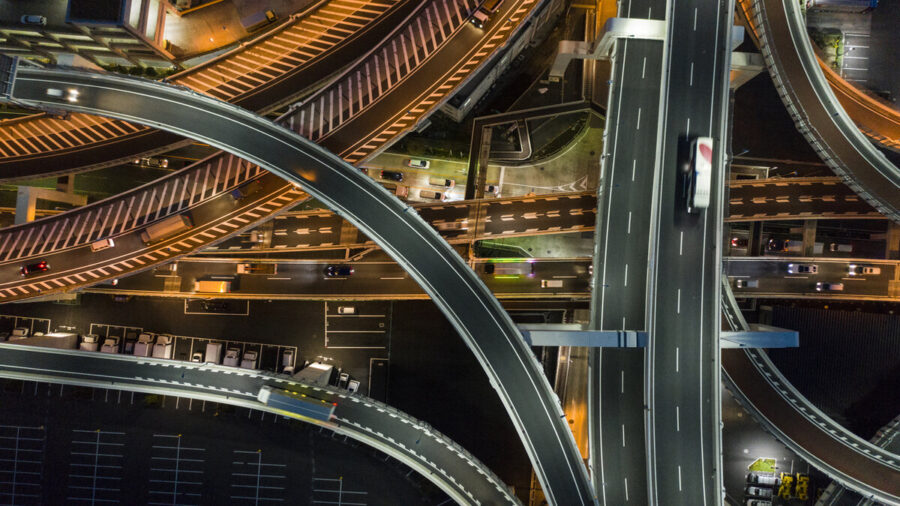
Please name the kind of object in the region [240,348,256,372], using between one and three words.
vehicle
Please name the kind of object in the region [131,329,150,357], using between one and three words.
vehicle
